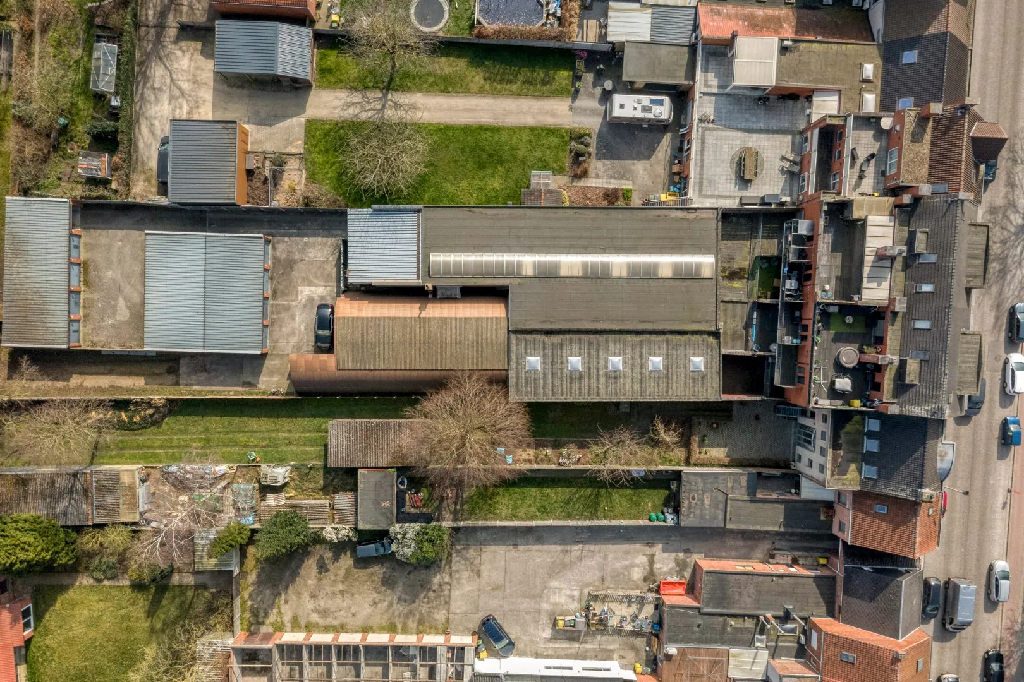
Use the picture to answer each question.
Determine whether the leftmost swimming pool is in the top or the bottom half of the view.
top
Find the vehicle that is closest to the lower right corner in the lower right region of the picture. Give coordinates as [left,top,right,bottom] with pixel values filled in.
[979,645,1007,682]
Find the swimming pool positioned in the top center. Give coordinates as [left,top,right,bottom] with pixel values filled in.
[474,0,549,30]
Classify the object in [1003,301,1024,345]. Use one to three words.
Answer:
car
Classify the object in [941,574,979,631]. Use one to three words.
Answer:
van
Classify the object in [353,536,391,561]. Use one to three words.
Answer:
vehicle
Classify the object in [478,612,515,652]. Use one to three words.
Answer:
car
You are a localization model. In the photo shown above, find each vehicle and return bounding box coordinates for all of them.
[983,558,1012,604]
[965,377,985,418]
[979,645,1007,682]
[1003,301,1024,345]
[353,536,391,561]
[312,304,332,351]
[1000,352,1024,396]
[985,159,999,192]
[153,136,169,183]
[997,415,1023,448]
[941,574,979,631]
[605,97,672,133]
[478,612,515,652]
[922,574,943,619]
